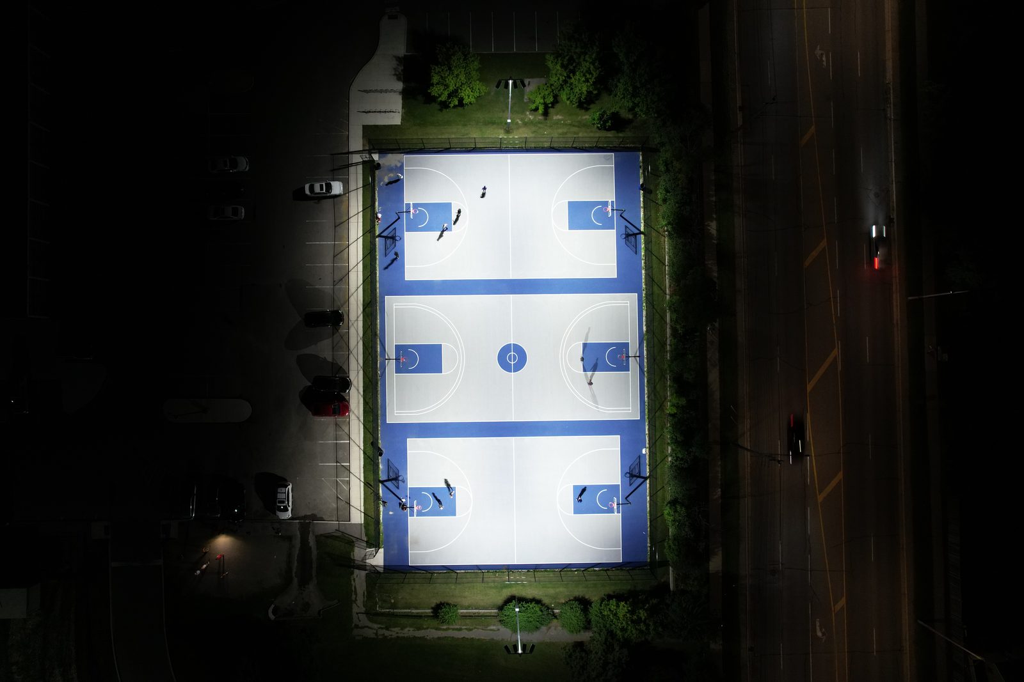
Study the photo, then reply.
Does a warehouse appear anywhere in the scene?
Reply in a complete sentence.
No, I can't see a single warehouse in this photo.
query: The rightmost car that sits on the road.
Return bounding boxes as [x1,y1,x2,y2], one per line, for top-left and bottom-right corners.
[867,227,888,264]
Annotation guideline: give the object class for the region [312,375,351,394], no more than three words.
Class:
car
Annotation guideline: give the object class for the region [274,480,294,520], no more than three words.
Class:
car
